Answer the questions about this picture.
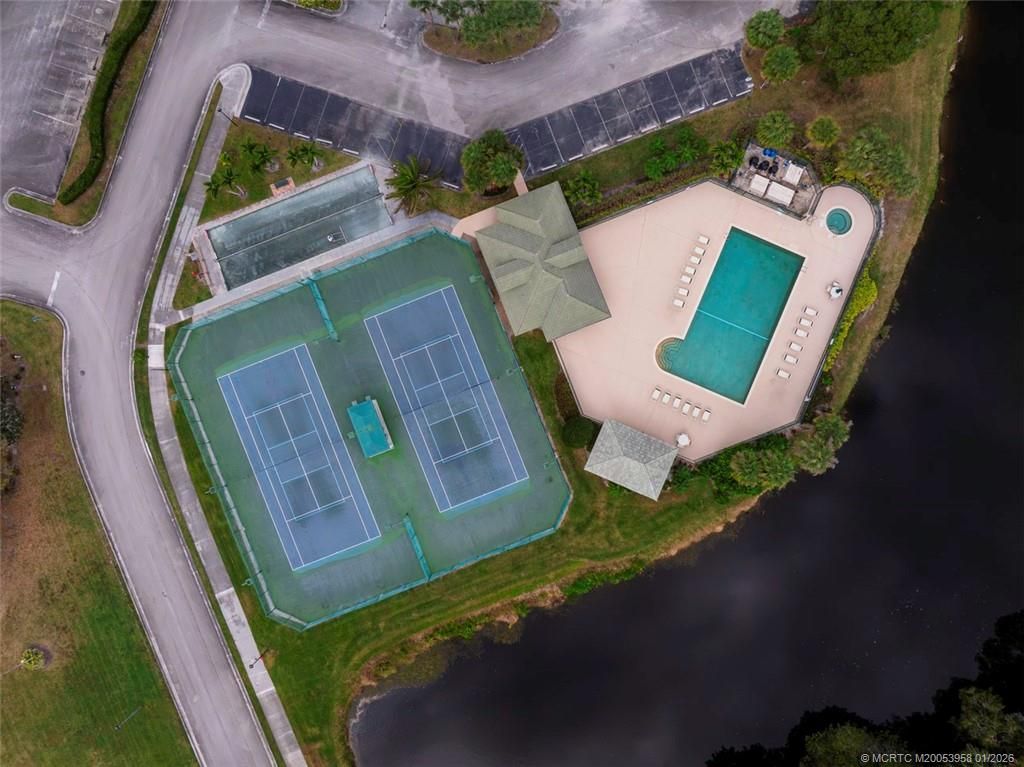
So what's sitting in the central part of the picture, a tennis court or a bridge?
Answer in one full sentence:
The one visible in the central part of the picture is a tennis court.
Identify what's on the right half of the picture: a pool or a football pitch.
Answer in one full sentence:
Visible on the right half of the picture is a pool.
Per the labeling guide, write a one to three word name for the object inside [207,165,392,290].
sports court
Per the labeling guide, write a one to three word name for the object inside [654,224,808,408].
swimming pool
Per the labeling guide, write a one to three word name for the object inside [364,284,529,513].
tennis court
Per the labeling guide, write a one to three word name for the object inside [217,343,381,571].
tennis court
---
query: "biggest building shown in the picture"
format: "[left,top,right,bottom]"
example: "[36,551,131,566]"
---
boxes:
[474,181,611,341]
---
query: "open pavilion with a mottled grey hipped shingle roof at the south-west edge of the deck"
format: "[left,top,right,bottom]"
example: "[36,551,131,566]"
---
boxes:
[584,418,679,501]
